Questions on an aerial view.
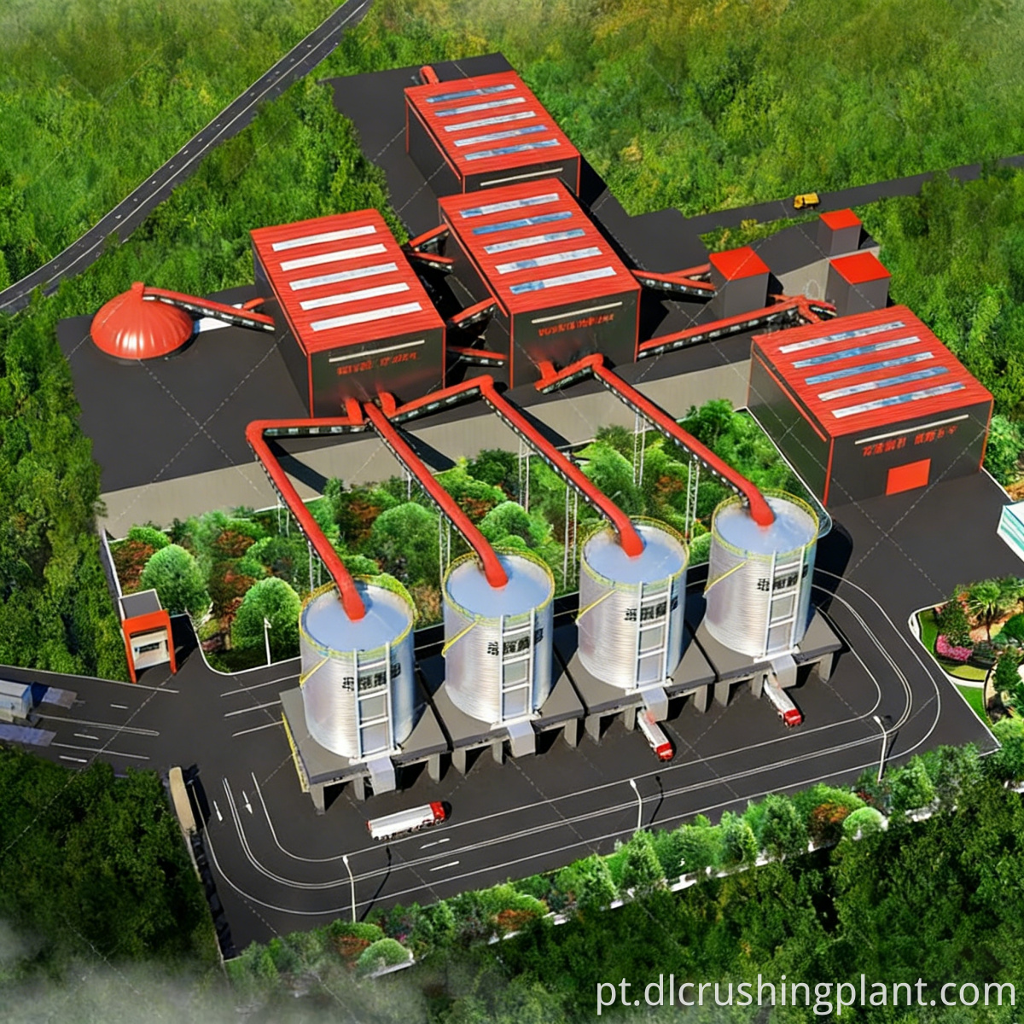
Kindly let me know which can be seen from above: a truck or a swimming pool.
truck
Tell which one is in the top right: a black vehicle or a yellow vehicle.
yellow vehicle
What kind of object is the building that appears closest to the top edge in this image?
warehouse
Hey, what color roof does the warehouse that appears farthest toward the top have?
red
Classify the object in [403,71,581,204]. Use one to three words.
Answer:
warehouse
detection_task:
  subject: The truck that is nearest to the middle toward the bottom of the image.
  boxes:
[636,705,677,758]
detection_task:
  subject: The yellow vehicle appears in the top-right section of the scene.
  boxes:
[793,188,820,205]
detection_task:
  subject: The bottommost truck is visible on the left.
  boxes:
[367,792,449,839]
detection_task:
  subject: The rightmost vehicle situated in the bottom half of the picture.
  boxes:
[764,672,807,724]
